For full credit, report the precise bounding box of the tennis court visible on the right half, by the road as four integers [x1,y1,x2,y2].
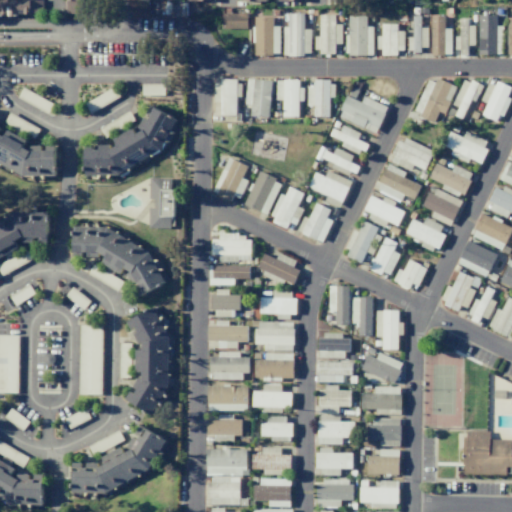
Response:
[424,352,466,429]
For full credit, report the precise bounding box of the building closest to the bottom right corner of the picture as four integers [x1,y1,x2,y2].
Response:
[465,432,512,476]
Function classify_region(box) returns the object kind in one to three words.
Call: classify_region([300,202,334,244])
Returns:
house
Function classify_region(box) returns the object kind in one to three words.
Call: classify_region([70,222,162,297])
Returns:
building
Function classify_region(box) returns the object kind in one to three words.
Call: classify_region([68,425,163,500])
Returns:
building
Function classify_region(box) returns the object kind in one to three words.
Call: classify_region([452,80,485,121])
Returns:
house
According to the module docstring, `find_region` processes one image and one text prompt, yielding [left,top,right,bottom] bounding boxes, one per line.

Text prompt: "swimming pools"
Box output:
[498,415,512,428]
[120,194,142,208]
